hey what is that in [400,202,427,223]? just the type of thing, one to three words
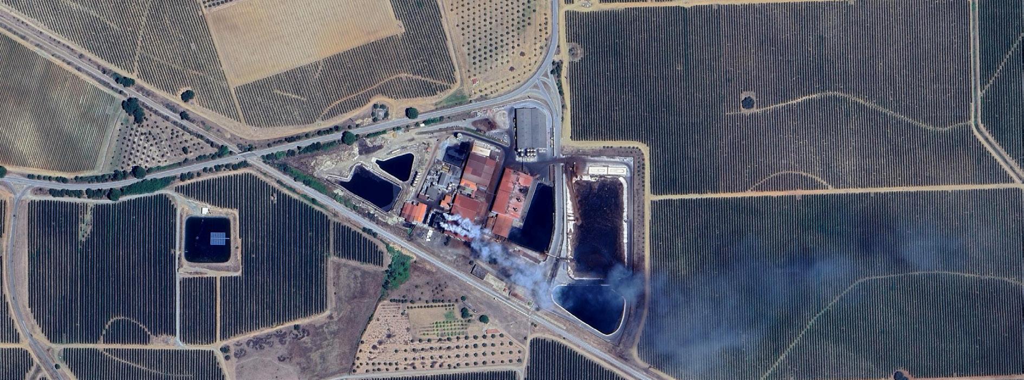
shed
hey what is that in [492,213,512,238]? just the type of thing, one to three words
building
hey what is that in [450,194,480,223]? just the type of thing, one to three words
building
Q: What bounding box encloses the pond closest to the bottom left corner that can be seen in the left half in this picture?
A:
[180,212,236,269]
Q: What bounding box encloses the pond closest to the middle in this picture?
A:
[507,181,555,254]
